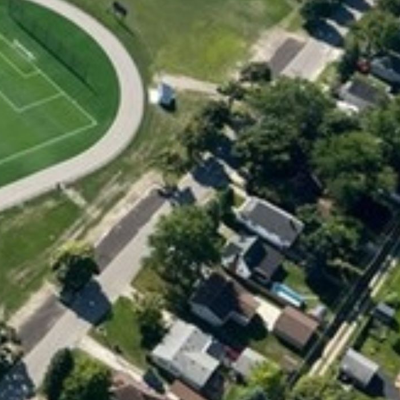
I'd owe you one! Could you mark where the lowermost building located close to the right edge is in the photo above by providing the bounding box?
[336,349,381,389]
